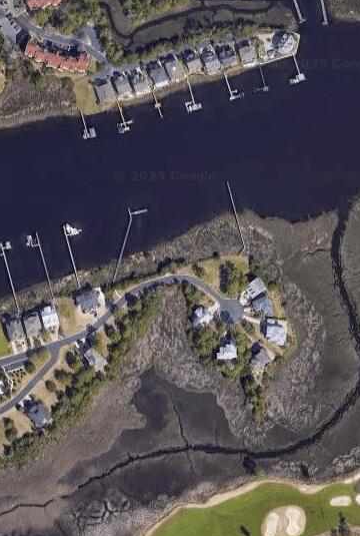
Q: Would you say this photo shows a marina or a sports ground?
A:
marina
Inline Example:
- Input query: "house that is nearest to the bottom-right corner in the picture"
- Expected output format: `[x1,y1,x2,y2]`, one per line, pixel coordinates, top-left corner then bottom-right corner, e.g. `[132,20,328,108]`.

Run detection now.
[246,345,274,371]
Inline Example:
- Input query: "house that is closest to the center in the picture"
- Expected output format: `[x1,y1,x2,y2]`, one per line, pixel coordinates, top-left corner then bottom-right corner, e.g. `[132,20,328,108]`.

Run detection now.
[190,304,216,328]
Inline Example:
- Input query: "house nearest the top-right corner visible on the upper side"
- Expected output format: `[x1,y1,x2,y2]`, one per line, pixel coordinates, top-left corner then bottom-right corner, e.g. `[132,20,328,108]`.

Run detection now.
[271,30,297,58]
